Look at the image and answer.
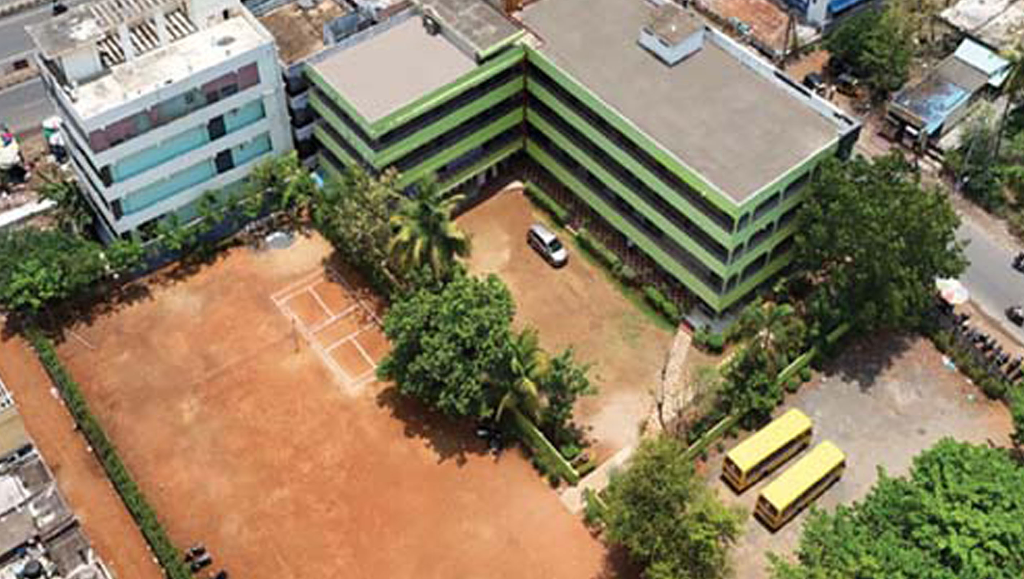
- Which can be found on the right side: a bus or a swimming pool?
bus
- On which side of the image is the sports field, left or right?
left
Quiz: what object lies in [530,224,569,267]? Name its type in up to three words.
car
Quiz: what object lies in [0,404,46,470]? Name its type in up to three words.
house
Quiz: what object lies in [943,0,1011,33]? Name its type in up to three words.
house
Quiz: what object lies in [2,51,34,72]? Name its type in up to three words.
vehicle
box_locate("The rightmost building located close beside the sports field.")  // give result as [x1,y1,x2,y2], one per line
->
[304,0,862,322]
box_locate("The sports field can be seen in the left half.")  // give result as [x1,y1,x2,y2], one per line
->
[0,217,617,579]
